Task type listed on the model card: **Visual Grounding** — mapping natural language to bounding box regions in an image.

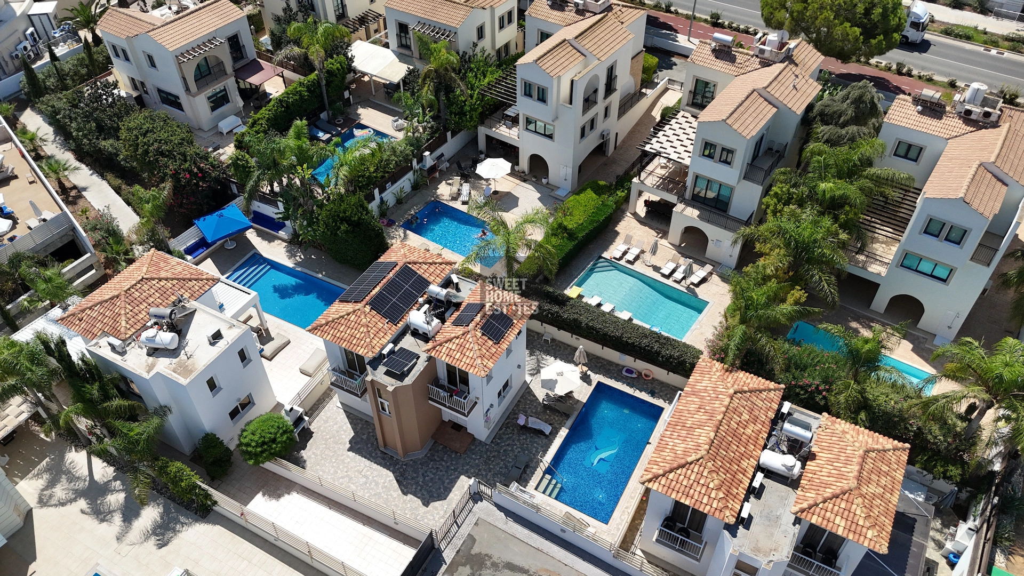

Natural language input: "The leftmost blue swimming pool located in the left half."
[220,245,349,334]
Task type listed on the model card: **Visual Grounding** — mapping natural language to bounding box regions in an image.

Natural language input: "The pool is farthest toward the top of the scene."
[305,119,398,190]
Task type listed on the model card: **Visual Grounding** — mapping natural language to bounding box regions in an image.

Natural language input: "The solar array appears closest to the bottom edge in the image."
[381,347,419,379]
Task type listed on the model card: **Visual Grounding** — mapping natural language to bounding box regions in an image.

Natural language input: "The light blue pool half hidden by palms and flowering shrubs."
[773,314,946,407]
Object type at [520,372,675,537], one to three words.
swimming pool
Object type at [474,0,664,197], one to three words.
house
